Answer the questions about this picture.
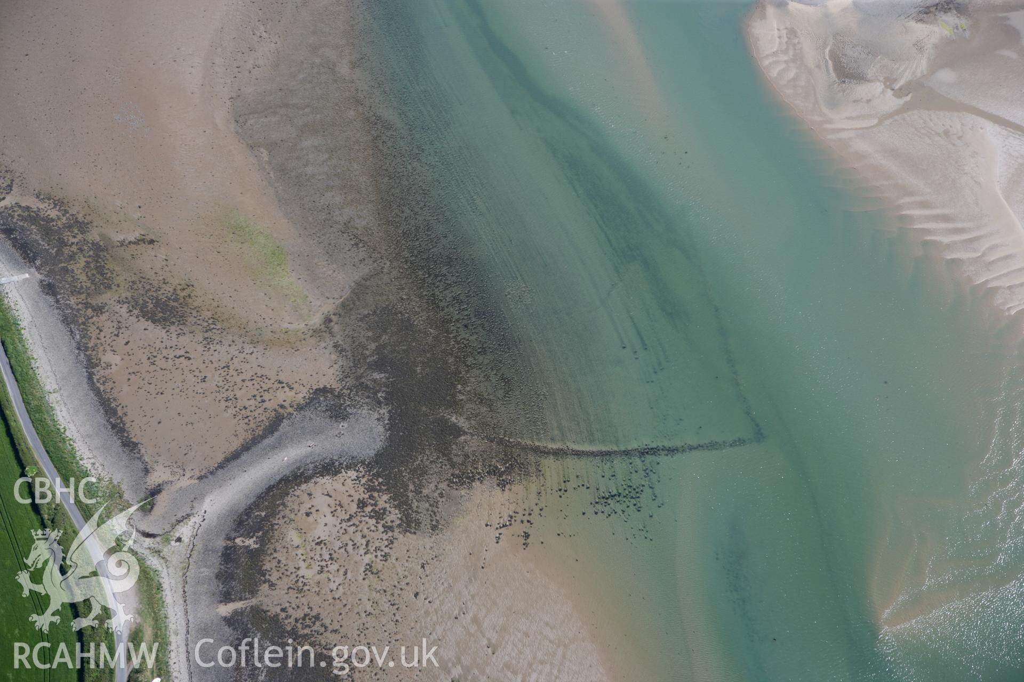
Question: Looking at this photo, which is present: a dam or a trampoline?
dam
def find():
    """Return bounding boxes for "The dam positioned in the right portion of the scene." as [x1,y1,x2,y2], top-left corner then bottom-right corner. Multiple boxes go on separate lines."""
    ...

[478,293,762,459]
